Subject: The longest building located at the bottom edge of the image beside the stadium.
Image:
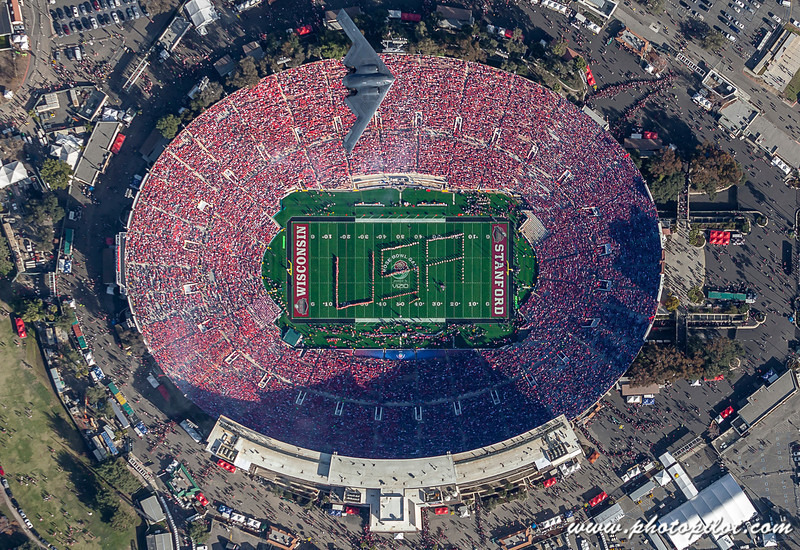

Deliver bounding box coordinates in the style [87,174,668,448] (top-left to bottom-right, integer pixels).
[208,413,580,530]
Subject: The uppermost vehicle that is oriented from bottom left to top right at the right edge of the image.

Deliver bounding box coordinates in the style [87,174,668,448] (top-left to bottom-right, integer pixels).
[757,29,773,52]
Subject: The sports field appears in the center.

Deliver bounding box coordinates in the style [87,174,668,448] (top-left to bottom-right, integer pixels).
[262,188,537,348]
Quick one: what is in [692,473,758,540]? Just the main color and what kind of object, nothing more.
white tent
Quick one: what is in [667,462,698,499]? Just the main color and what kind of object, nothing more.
white tent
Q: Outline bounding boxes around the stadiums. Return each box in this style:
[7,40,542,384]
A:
[125,52,665,456]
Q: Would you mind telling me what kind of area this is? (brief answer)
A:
sports ground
